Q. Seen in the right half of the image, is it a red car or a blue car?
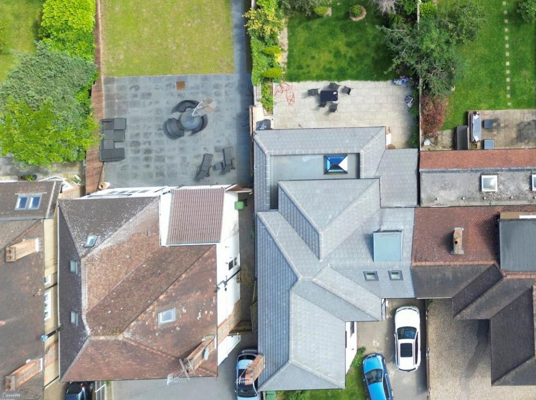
blue car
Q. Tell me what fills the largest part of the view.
buildings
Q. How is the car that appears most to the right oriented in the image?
vertically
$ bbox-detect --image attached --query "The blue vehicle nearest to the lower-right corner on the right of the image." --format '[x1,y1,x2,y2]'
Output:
[361,355,392,400]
